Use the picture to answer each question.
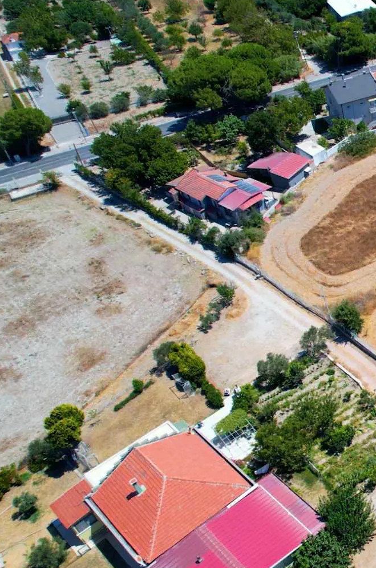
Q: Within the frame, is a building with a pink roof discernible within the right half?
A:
Yes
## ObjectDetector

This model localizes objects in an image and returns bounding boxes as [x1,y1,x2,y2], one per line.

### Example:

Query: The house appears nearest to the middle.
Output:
[171,166,272,227]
